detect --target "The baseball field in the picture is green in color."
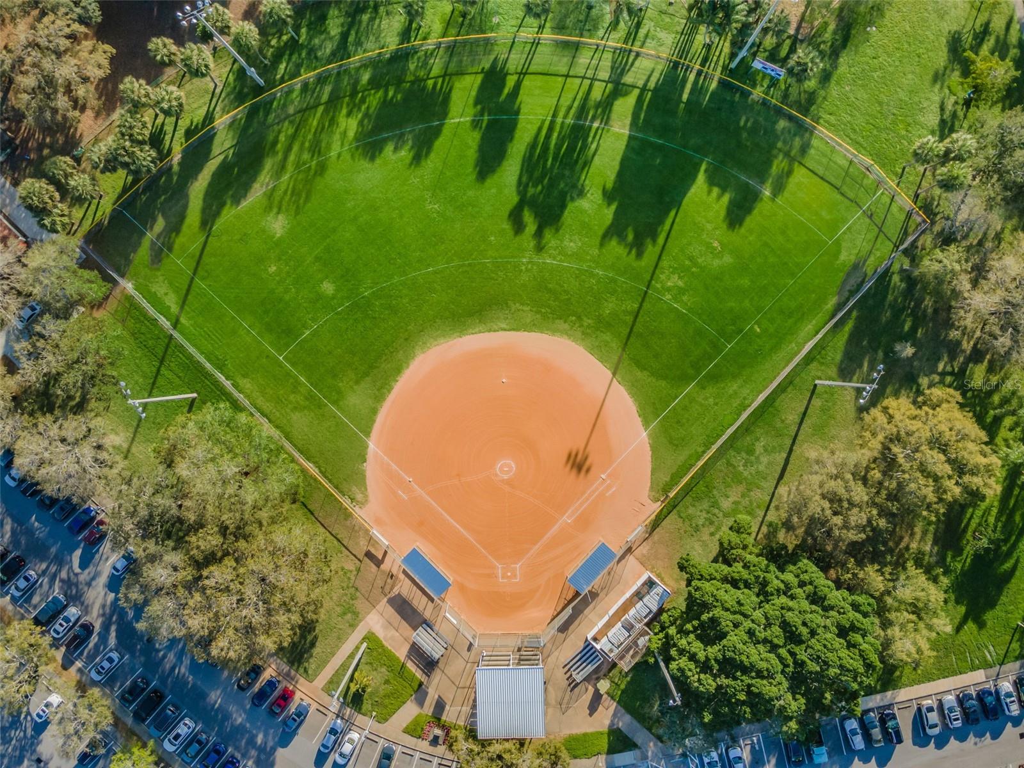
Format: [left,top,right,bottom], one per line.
[93,40,919,634]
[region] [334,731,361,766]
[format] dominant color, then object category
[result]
white car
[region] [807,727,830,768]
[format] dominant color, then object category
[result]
blue truck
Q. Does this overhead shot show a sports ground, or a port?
sports ground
